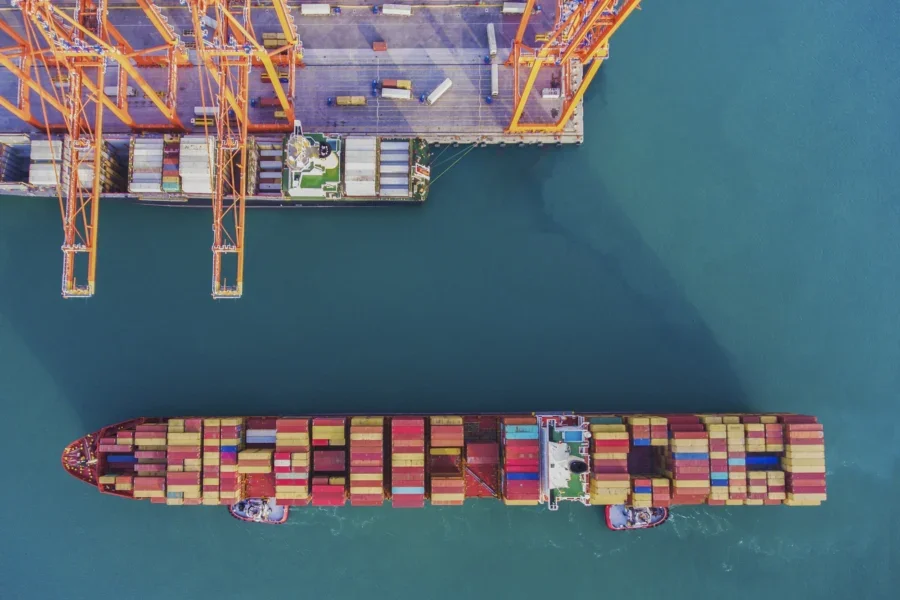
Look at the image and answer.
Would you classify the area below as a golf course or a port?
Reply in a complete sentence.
This looks like a port.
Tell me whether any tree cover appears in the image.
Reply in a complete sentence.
No, tree cover can't be seen anywhere here.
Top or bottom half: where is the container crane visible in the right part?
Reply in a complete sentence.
It is in the top half that the container crane visible in the right part appears.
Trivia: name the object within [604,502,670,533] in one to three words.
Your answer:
boat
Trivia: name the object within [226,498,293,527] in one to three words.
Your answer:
boat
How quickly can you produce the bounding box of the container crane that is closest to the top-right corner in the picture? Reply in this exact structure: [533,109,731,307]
[502,0,636,134]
